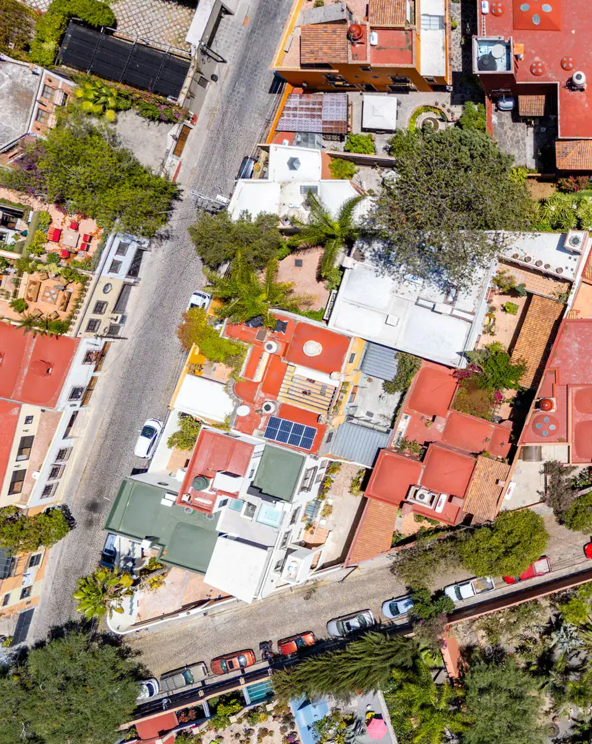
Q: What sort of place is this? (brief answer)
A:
residential area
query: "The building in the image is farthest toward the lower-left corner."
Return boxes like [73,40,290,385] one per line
[0,626,47,668]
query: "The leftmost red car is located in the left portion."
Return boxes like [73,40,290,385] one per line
[210,647,258,676]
